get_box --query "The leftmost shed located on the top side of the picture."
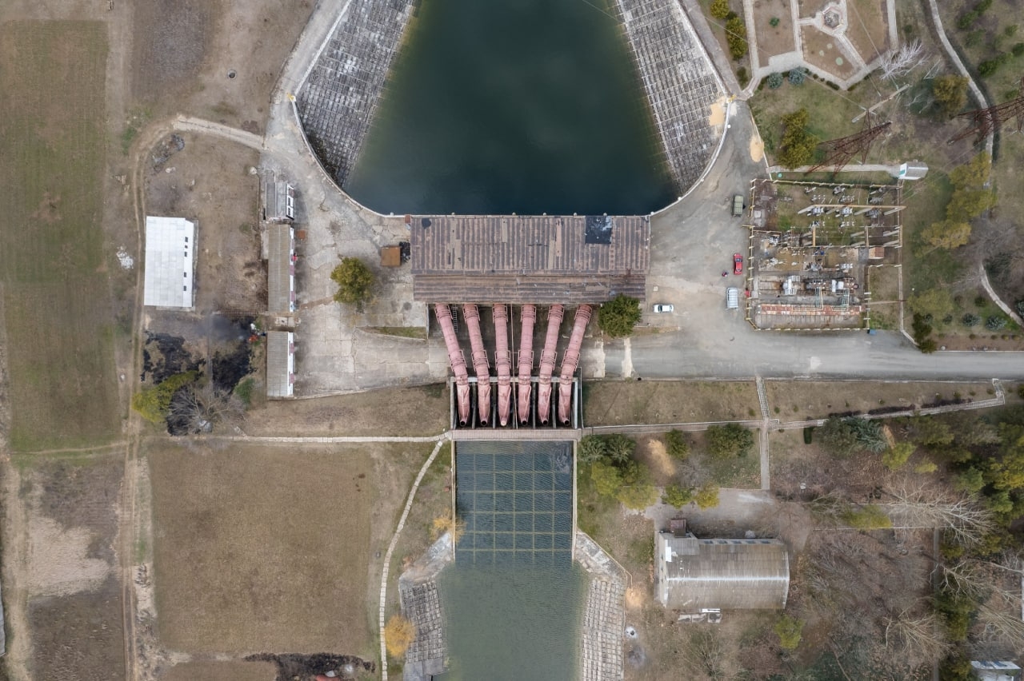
[145,216,194,308]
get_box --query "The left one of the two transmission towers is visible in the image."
[806,101,891,177]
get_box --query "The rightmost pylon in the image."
[946,69,1024,148]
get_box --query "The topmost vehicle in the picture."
[731,195,744,217]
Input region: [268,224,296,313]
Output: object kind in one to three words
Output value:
building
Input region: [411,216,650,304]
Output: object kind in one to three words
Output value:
building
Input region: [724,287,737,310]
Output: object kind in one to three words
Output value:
vehicle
